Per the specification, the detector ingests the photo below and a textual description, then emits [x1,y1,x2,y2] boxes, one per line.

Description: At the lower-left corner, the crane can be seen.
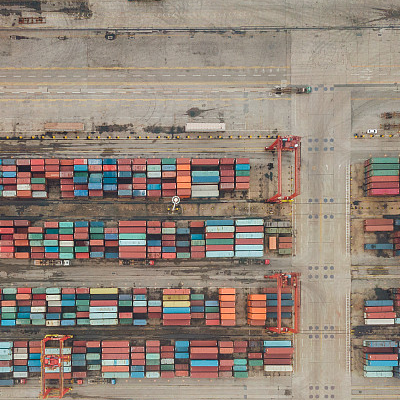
[39,334,73,400]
